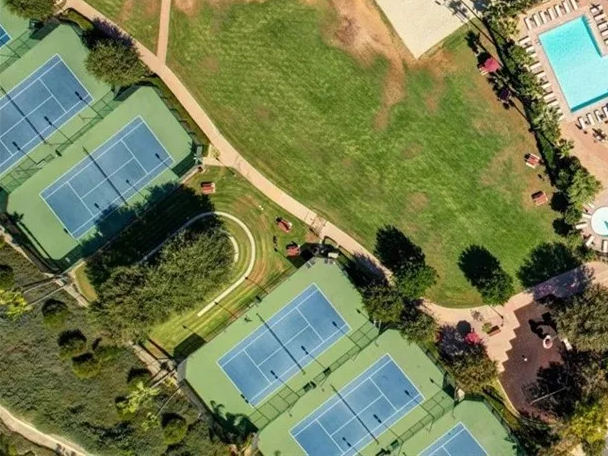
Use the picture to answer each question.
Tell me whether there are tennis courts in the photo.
Yes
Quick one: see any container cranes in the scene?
No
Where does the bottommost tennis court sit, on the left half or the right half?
right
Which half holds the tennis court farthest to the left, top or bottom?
top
